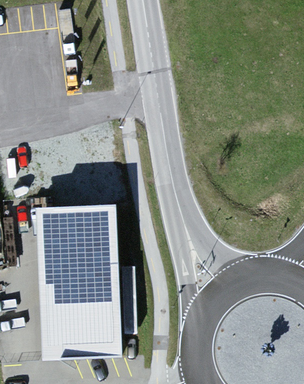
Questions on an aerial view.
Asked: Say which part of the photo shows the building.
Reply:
bottom left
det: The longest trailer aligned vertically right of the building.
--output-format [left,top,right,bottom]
[122,268,137,336]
